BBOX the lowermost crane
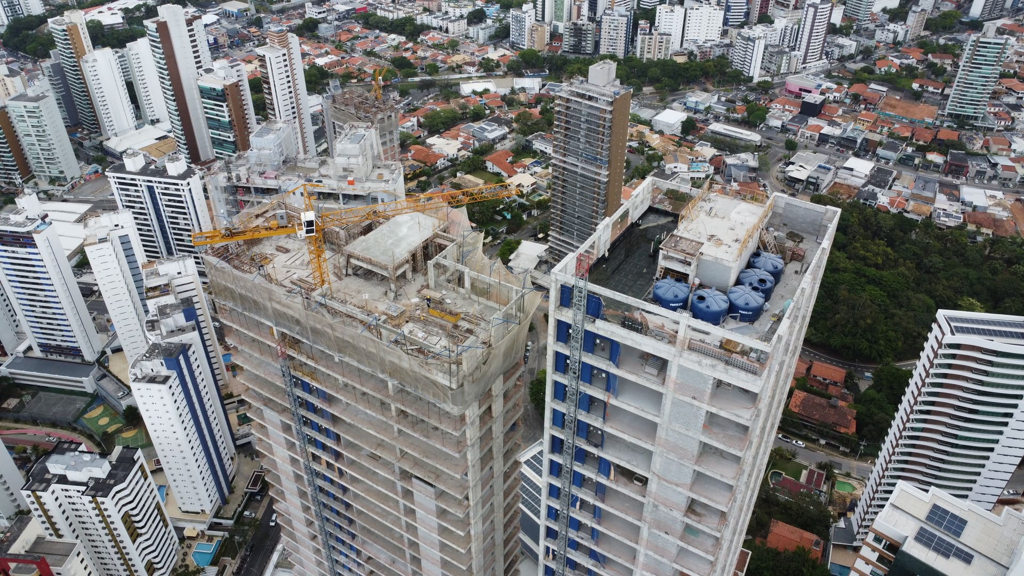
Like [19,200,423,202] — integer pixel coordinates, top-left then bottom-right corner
[189,181,525,343]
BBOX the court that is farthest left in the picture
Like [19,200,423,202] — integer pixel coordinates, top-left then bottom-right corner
[22,392,89,420]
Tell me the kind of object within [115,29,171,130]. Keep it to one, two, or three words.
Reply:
building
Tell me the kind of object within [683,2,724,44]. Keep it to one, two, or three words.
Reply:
building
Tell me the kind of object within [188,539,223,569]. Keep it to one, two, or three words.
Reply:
swimming pool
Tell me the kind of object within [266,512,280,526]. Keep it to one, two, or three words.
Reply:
car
